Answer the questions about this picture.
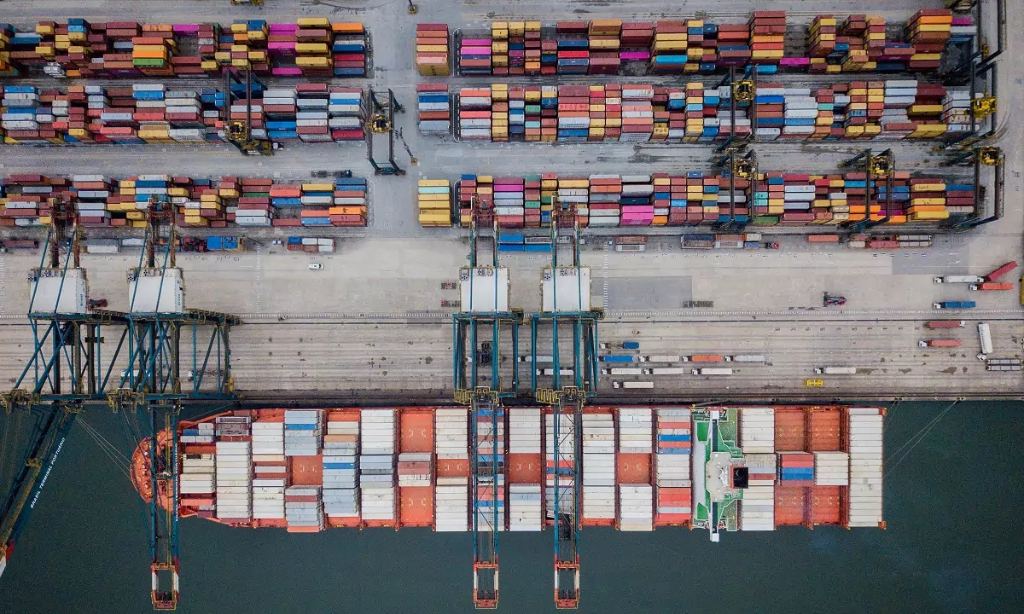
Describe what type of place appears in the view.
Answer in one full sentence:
The picture captures a port.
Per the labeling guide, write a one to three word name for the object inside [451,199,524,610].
container crane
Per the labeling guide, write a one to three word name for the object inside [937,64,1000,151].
container crane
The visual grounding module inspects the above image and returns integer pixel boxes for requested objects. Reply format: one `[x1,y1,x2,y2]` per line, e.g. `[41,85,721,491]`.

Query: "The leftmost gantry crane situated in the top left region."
[223,70,272,156]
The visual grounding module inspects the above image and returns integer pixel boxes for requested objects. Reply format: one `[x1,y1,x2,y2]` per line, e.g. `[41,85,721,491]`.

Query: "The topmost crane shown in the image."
[942,0,1005,73]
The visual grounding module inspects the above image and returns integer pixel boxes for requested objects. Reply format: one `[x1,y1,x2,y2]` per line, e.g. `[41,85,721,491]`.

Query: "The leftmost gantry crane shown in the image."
[0,199,151,563]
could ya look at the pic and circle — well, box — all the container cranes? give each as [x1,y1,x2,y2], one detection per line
[368,88,406,173]
[713,149,758,230]
[713,66,758,152]
[223,70,272,156]
[451,199,524,610]
[0,199,151,563]
[530,199,606,610]
[941,144,1004,227]
[937,64,1000,151]
[942,0,1005,73]
[103,199,246,610]
[839,147,893,228]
